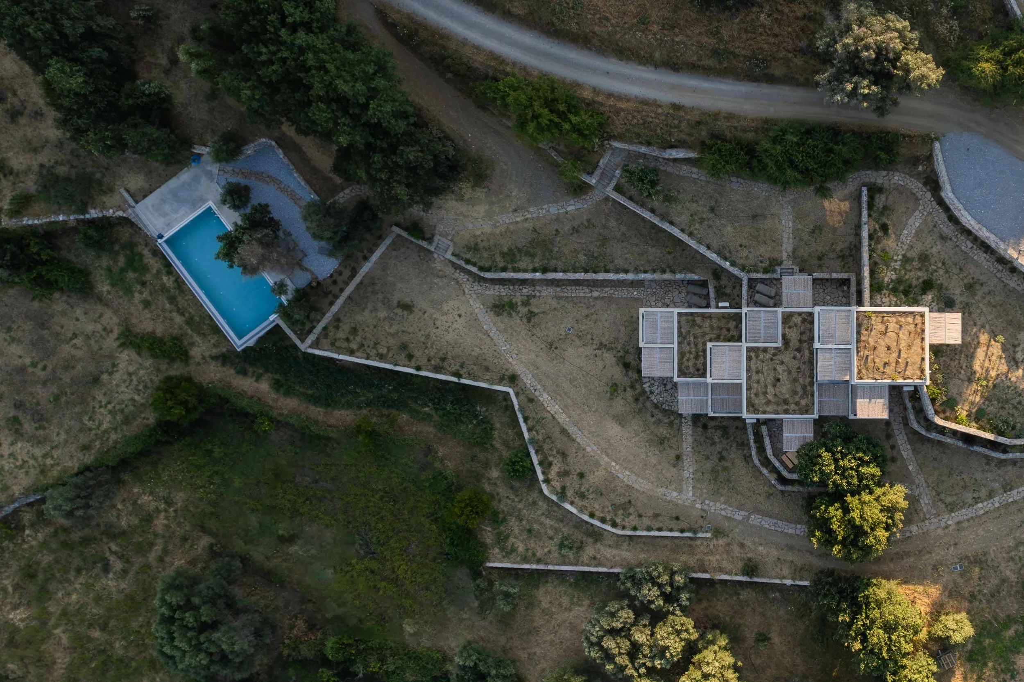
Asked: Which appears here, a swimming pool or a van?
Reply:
swimming pool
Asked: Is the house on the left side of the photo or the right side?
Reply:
right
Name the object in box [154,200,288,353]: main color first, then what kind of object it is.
blue swimming pool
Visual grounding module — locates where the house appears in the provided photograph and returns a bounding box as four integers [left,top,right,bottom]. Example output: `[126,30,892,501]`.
[636,306,931,419]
